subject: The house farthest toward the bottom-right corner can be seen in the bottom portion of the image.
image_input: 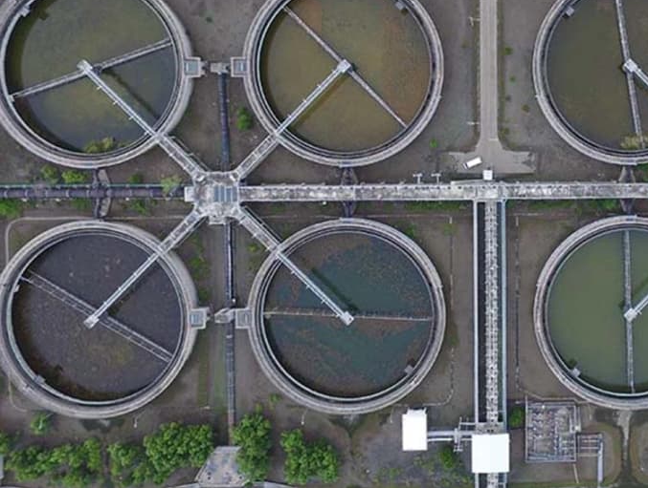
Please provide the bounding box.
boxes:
[471,430,510,474]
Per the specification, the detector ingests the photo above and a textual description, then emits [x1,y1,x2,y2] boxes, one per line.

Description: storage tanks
[233,219,444,412]
[535,0,648,161]
[230,0,442,163]
[0,0,204,165]
[535,217,648,407]
[0,221,210,416]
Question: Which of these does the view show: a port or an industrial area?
industrial area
